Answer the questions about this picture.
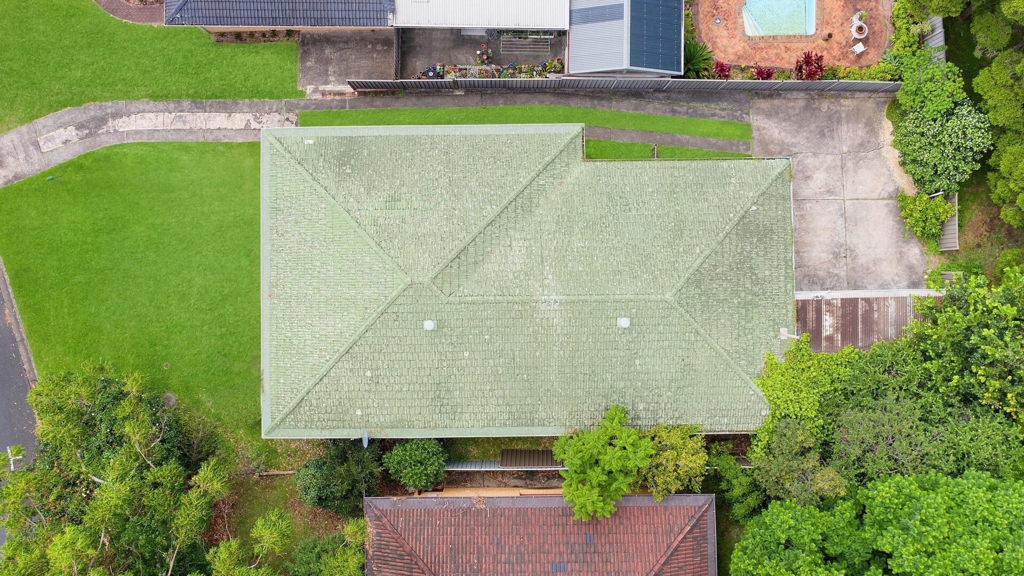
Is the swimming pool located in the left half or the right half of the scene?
right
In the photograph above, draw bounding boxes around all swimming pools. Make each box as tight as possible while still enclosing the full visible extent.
[733,0,827,45]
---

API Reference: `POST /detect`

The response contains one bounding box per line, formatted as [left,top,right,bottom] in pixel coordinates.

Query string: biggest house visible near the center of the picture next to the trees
[259,122,799,442]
